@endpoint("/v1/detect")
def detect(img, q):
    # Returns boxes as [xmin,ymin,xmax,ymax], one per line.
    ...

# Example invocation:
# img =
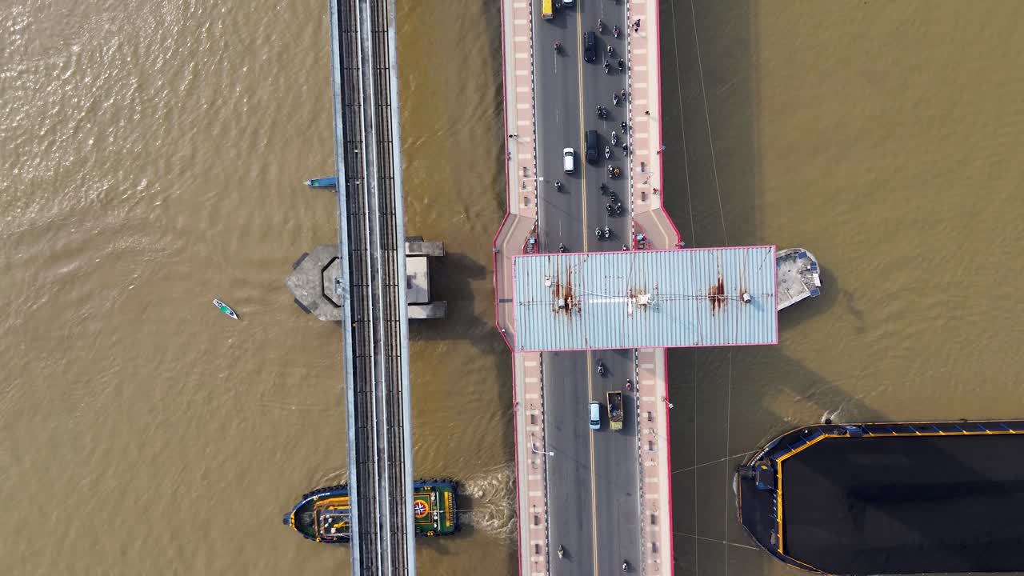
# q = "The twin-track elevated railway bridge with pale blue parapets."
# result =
[327,0,417,576]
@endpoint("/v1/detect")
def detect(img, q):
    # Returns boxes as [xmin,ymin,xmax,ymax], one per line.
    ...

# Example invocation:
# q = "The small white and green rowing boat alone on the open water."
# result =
[213,299,239,318]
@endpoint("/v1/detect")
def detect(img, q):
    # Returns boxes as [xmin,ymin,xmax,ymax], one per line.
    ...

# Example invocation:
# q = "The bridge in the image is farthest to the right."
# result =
[493,0,681,576]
